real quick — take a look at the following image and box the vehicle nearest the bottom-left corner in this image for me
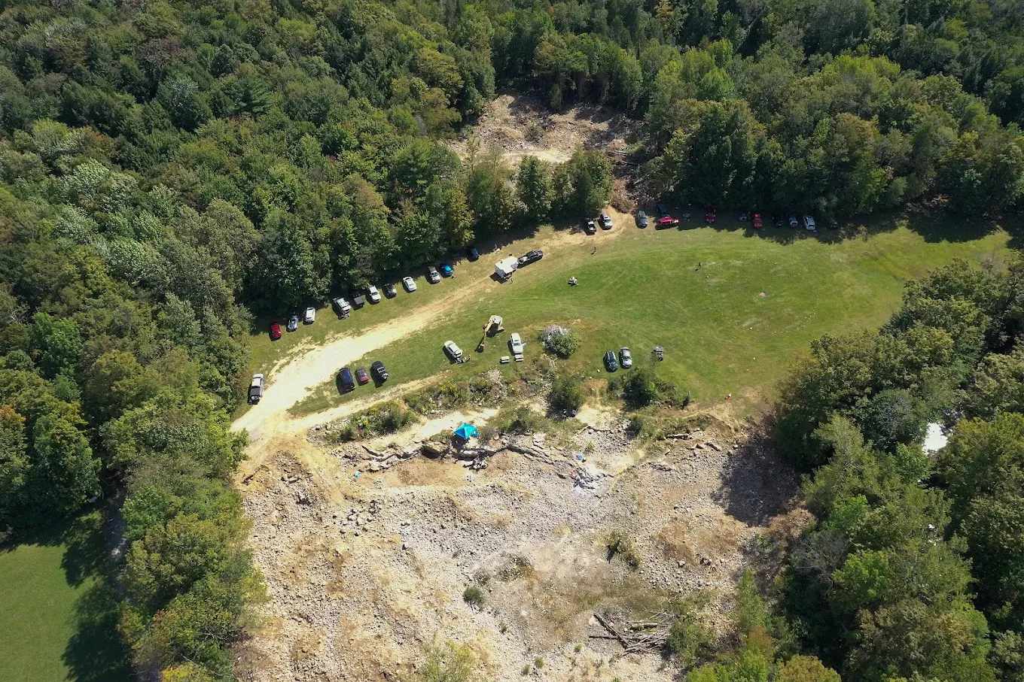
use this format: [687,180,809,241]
[248,374,264,403]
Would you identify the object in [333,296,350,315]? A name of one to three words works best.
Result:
vehicle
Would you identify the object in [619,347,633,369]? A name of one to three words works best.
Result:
car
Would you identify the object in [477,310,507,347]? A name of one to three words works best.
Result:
work vehicle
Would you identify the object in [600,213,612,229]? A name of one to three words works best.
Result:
vehicle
